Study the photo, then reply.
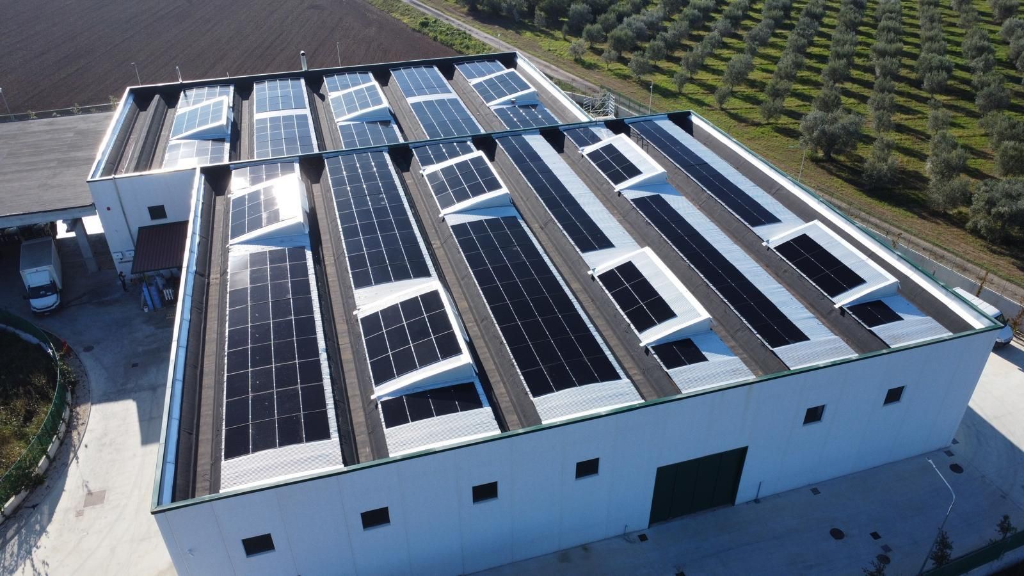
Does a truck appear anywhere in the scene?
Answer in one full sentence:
Yes, there's a truck here.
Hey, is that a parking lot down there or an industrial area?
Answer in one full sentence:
What you see here is an industrial area.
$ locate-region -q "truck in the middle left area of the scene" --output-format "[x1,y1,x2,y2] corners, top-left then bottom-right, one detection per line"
[20,237,65,319]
